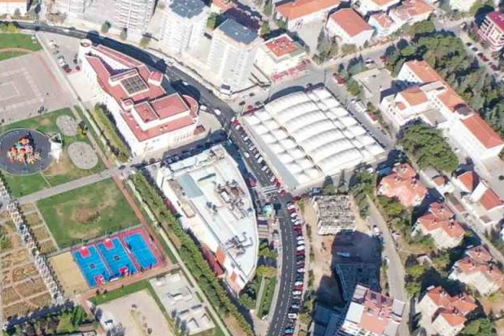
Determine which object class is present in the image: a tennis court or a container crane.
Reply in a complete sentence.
Looking from above, you can make out a tennis court.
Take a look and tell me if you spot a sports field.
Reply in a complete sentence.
Yes, you can see a sports field in this photo.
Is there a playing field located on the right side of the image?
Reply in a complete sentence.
No, there is no playing field on the right side of the image.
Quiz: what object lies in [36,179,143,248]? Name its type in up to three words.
sports field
